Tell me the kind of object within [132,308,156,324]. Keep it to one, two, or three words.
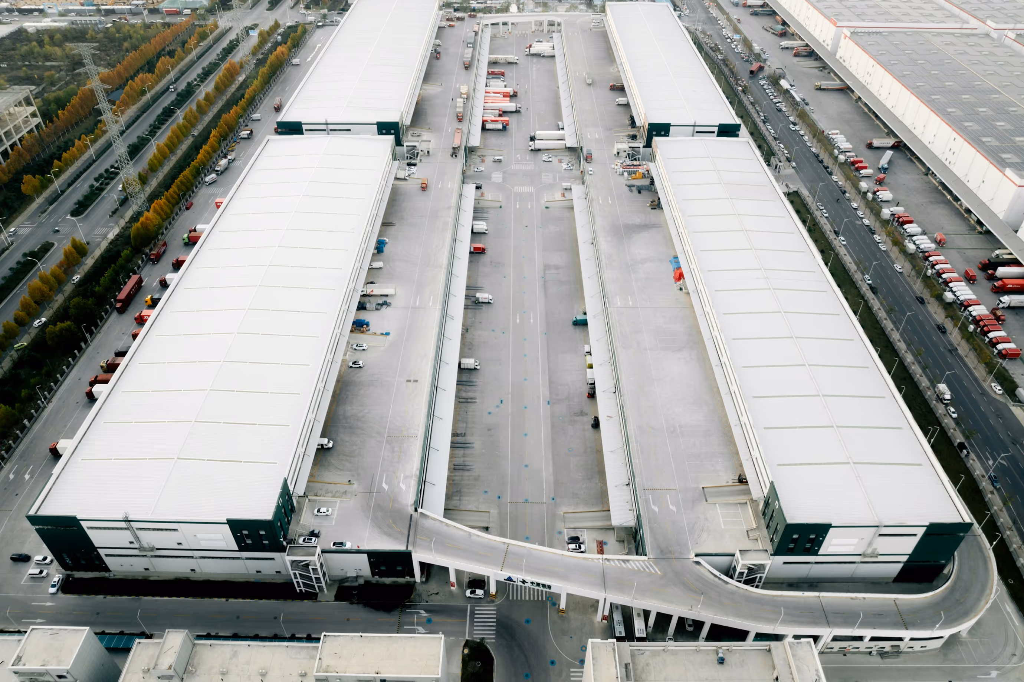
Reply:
vehicle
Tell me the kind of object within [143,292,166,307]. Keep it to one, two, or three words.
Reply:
vehicle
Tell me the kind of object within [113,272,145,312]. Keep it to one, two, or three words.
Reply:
truck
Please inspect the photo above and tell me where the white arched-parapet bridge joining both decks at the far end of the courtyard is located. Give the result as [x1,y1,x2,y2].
[479,10,606,37]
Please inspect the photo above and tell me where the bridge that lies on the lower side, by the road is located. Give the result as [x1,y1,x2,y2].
[409,462,997,657]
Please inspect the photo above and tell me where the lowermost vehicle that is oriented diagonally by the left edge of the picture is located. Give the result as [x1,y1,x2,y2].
[46,575,65,594]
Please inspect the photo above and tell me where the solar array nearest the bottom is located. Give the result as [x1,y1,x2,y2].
[853,33,1024,171]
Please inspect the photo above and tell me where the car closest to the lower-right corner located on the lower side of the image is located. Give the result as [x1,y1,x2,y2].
[986,473,1001,488]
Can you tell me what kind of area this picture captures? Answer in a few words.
industrial area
